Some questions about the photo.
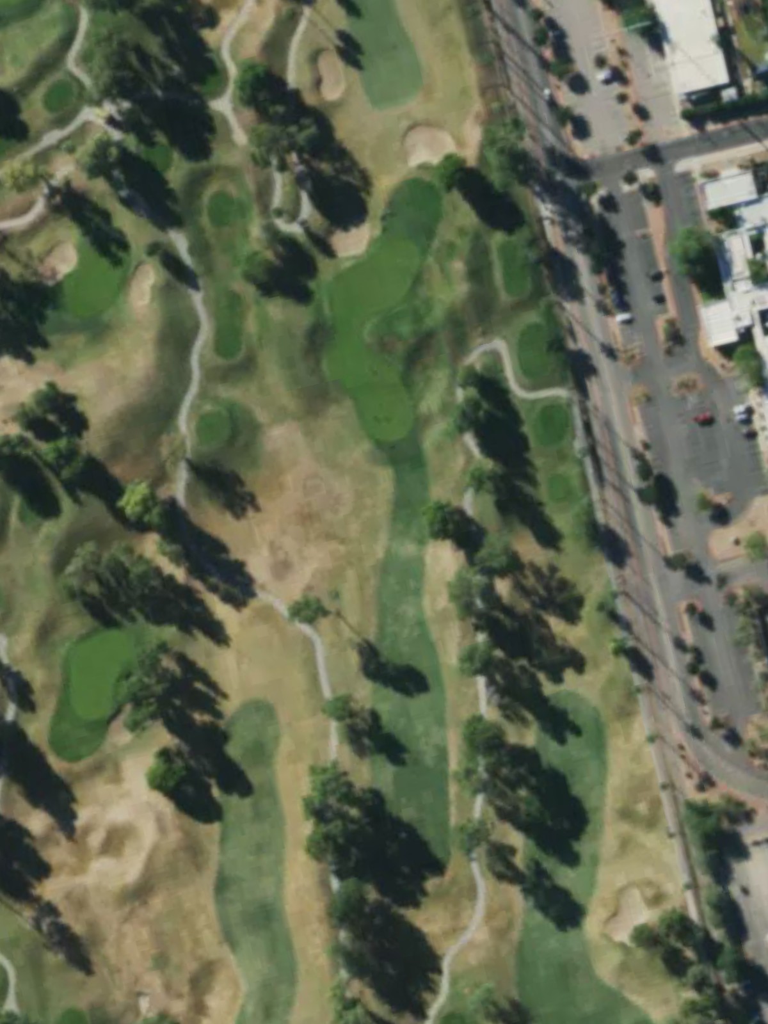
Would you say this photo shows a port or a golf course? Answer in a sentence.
The area seen from above is a golf course.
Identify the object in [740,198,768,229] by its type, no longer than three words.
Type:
building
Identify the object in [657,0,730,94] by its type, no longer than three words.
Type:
building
